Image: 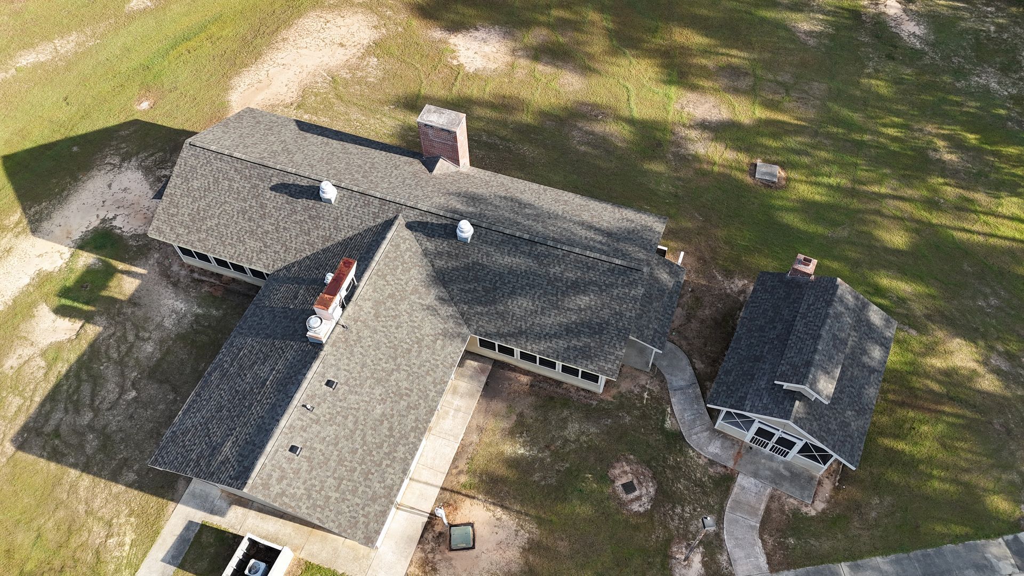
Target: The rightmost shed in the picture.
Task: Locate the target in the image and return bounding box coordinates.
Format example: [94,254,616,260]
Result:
[705,253,896,474]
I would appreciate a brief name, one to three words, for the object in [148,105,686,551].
house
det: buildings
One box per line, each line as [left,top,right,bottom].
[705,253,896,474]
[148,105,686,551]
